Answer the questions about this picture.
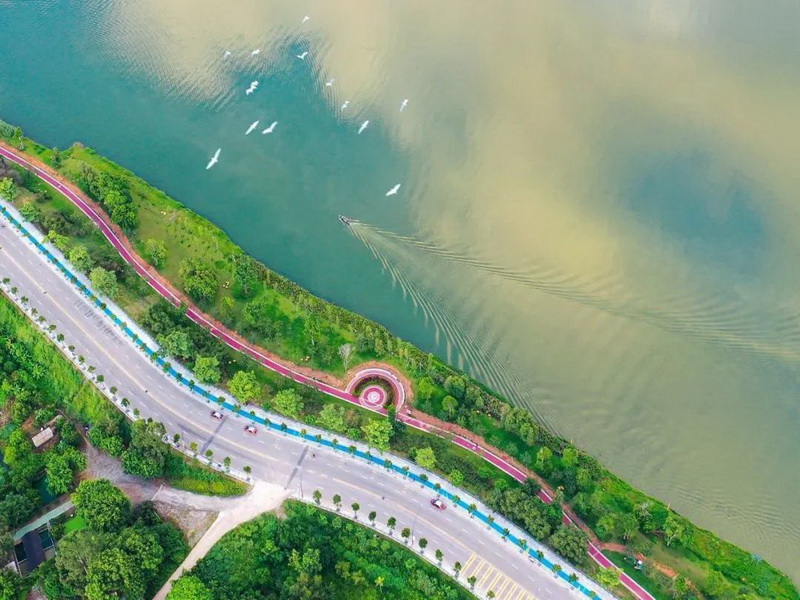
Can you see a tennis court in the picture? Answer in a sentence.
No, I can't see a single tennis court in this photo.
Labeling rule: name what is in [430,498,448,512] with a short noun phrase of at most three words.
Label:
car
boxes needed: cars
[430,498,448,512]
[209,409,224,420]
[242,425,258,435]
